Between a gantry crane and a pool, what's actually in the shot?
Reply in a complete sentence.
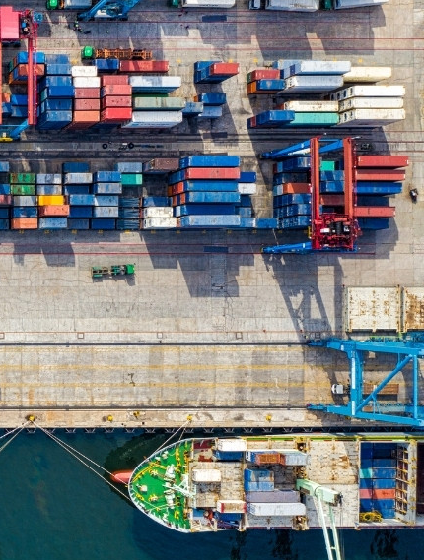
There is a gantry crane in the scene.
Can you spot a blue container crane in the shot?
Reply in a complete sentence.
Yes, a blue container crane appears in the view.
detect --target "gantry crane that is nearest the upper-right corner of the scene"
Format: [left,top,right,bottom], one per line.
[256,136,356,253]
